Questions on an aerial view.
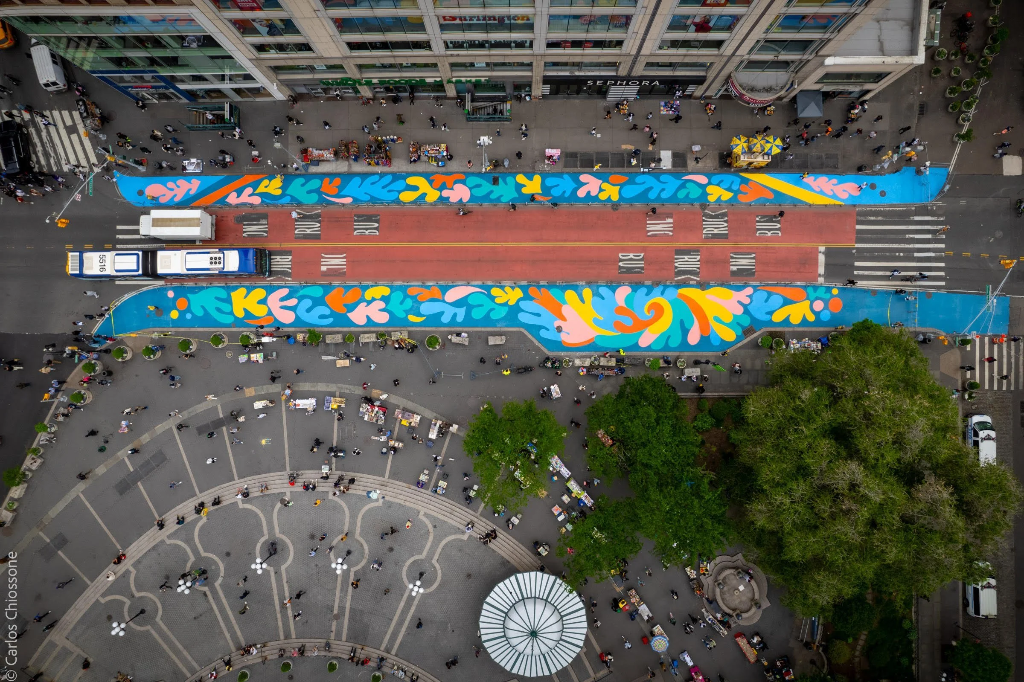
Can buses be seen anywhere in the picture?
Yes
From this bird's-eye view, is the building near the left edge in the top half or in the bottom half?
top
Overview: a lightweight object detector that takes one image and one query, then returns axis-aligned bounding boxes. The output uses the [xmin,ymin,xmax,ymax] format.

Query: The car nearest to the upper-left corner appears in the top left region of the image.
[0,20,25,55]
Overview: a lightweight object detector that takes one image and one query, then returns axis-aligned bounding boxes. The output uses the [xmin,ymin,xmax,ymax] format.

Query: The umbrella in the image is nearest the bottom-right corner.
[650,633,668,651]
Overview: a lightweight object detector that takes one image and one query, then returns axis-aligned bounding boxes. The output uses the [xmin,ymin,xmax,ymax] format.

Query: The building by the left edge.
[0,0,284,103]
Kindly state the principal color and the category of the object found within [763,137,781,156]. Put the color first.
yellow umbrella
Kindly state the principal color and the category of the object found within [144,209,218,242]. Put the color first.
white truck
